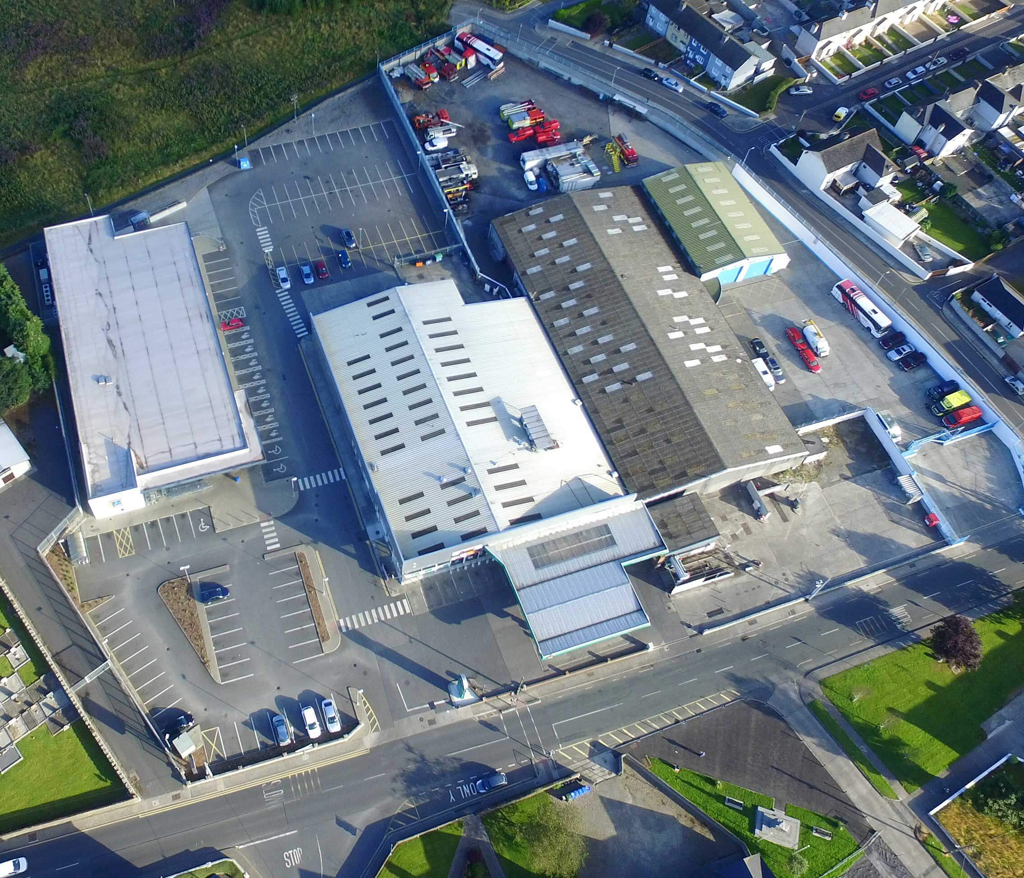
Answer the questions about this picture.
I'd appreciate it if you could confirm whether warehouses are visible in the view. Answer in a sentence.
Yes, a warehouse is visible in the scene.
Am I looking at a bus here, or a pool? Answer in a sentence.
Visible in the photo is a bus.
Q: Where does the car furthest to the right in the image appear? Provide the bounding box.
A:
[1003,376,1024,397]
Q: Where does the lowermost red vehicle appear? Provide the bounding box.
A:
[947,405,982,428]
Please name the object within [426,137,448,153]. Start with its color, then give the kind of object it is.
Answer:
white vehicle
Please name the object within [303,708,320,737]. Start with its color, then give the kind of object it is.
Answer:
white car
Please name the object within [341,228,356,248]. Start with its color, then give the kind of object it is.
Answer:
blue car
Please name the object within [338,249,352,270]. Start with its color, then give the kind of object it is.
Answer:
blue car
